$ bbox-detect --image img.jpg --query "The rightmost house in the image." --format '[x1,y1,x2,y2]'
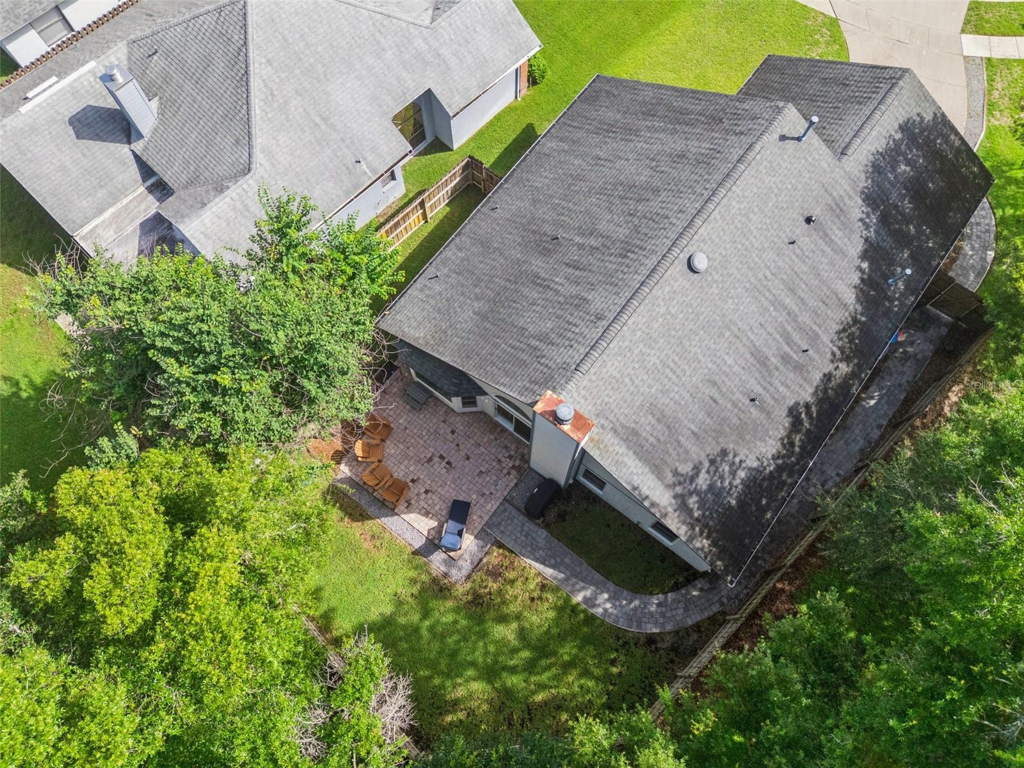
[374,54,996,587]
